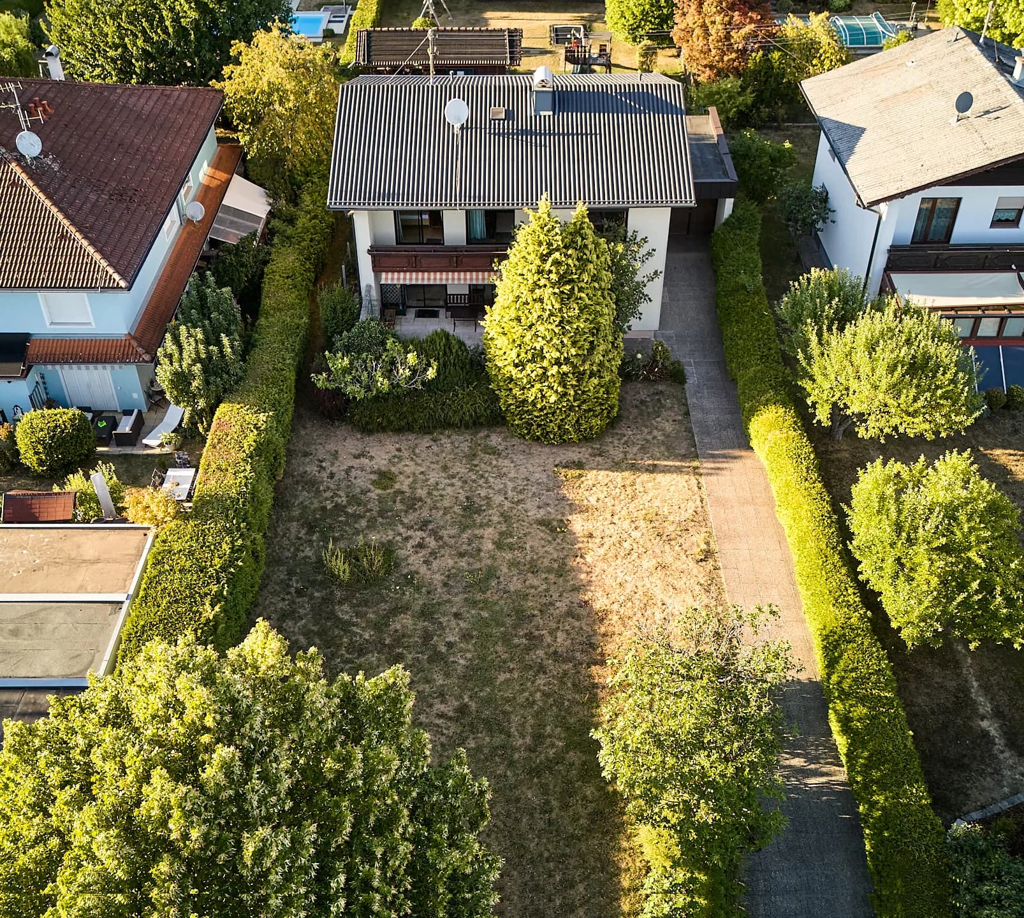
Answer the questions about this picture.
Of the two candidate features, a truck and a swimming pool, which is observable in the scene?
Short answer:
swimming pool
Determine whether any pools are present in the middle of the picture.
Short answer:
No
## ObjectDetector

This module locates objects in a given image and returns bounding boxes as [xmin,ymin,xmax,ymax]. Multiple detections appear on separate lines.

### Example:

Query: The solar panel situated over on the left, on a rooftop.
[0,324,33,375]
